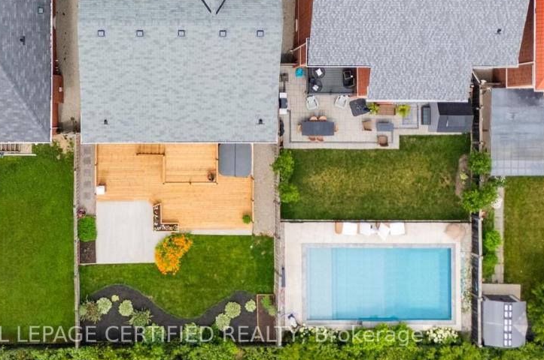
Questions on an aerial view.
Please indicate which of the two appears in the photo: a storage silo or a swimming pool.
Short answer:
swimming pool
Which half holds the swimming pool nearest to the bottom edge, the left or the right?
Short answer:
right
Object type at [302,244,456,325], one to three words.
swimming pool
